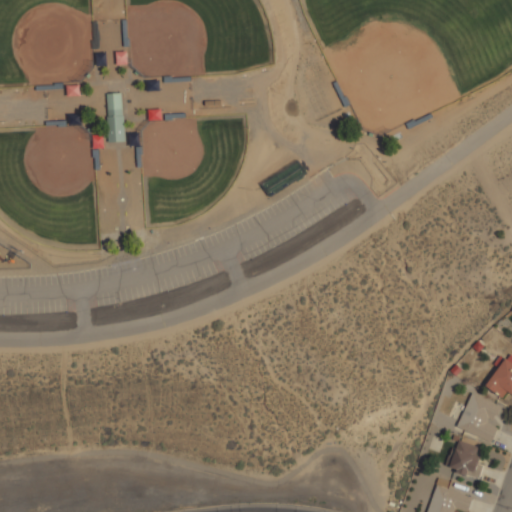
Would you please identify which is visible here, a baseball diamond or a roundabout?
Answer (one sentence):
There is a baseball diamond in the scene.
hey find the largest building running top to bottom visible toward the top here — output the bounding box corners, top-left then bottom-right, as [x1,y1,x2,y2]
[106,92,126,142]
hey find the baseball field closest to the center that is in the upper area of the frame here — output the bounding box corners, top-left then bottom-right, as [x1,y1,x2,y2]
[142,118,243,222]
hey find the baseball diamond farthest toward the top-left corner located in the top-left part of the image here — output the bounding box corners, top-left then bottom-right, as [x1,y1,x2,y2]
[0,0,94,85]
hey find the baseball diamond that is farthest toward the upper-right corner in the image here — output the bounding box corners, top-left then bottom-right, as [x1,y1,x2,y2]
[306,0,512,132]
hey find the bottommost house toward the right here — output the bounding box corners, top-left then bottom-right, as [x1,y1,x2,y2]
[426,484,468,512]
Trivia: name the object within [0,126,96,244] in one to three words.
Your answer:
baseball field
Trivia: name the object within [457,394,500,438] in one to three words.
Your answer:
house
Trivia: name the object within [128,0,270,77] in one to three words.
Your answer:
baseball field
